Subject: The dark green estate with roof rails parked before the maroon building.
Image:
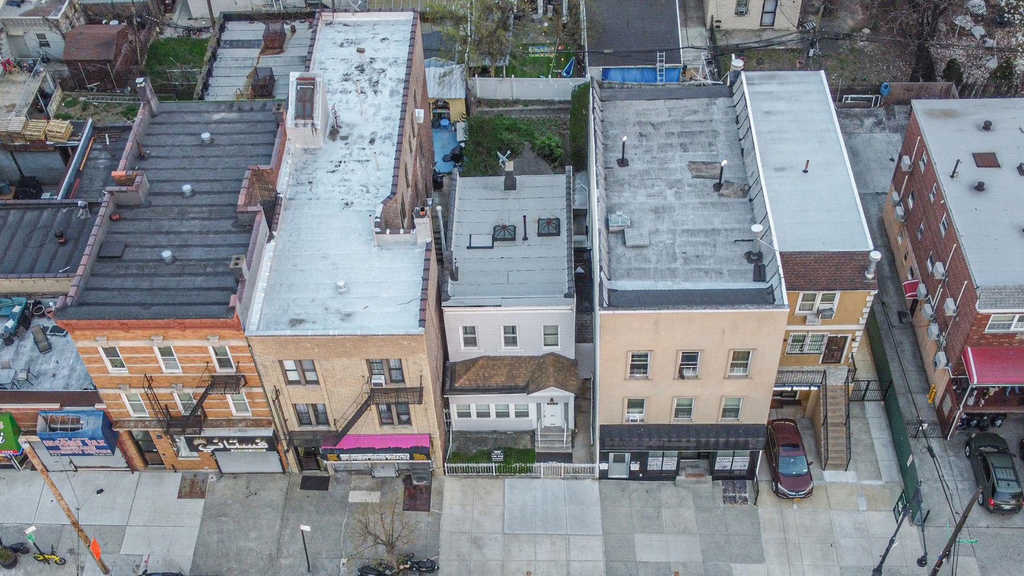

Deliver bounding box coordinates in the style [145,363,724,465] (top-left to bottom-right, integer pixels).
[969,437,1024,519]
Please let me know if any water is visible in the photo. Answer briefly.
No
